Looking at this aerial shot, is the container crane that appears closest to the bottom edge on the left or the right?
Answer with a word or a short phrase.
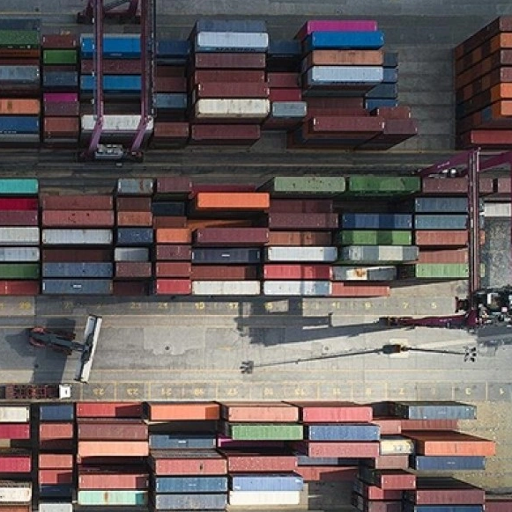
right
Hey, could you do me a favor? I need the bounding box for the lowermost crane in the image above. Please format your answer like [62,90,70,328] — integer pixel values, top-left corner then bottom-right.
[375,148,512,333]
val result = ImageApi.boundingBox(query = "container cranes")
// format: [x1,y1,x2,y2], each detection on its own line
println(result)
[375,148,512,333]
[67,0,152,155]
